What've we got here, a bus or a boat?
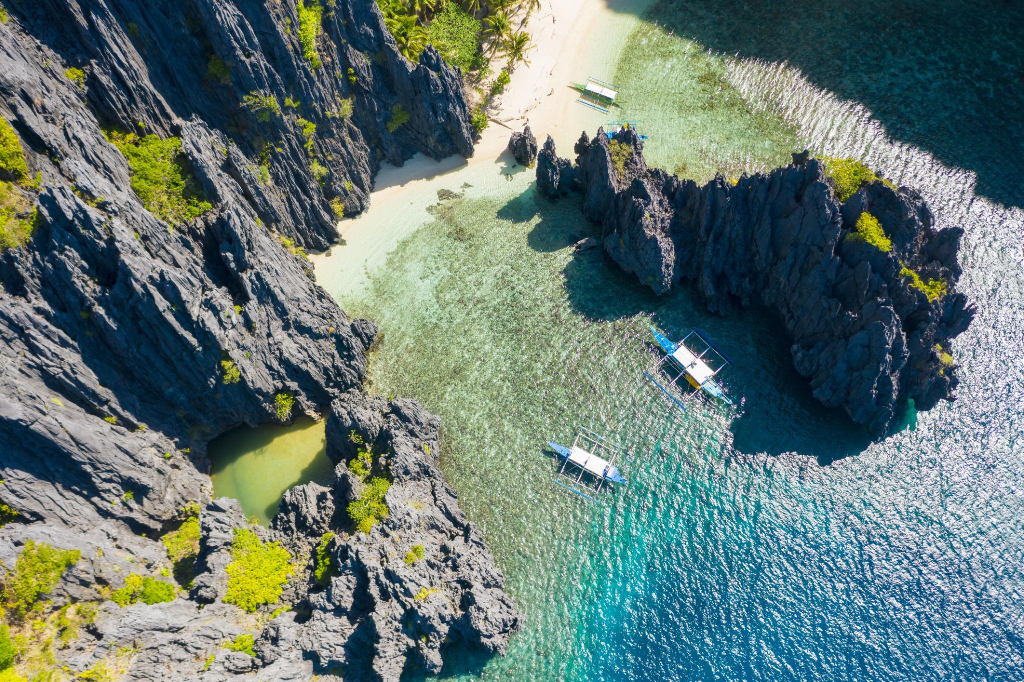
boat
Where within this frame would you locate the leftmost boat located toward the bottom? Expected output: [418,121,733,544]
[548,431,628,498]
